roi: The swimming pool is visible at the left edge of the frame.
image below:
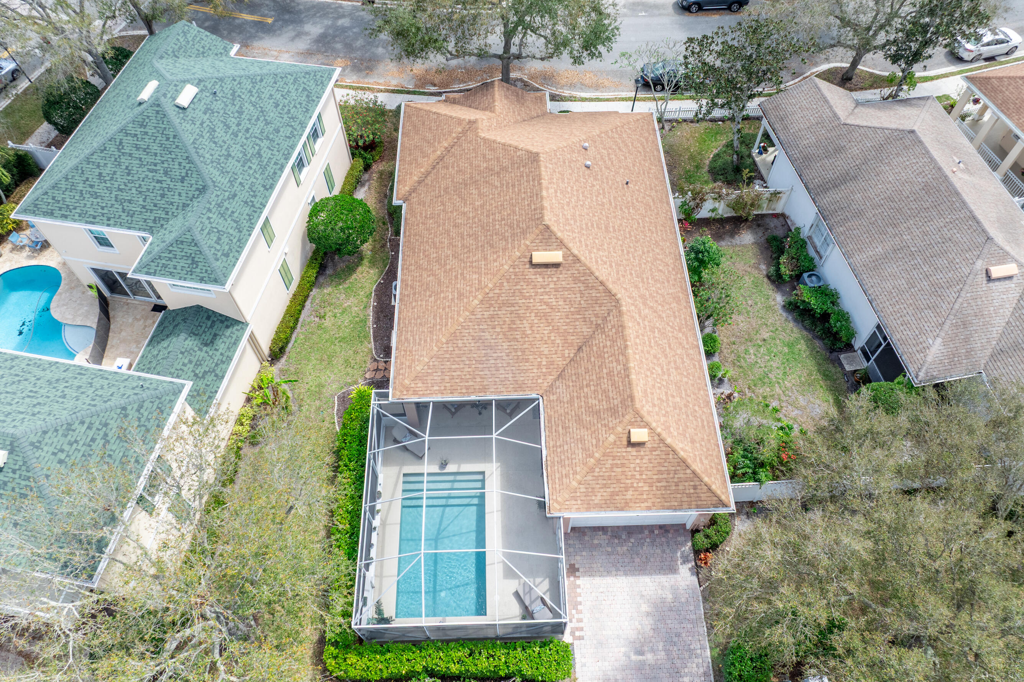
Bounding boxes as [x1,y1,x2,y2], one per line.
[0,265,95,362]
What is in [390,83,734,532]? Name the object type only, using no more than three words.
house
